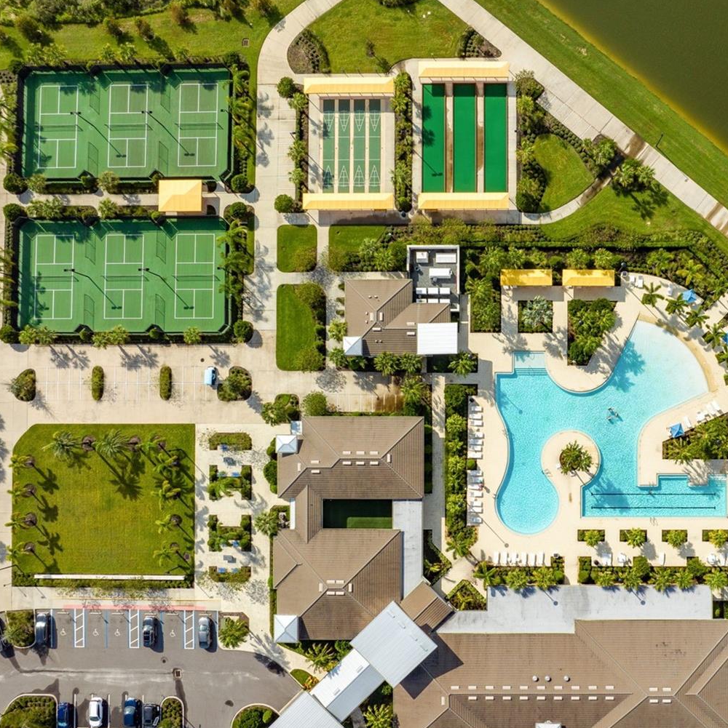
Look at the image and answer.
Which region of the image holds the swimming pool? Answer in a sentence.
Look in the right portion of the view to spot the swimming pool.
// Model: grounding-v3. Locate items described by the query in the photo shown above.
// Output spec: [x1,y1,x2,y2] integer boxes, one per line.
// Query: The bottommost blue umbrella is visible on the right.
[670,423,684,437]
